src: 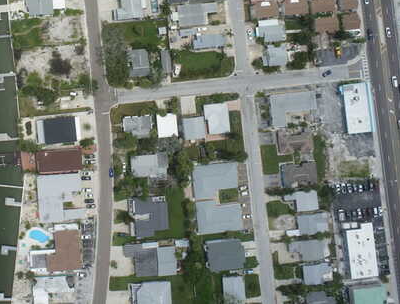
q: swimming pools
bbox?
[150,0,159,13]
[28,228,50,242]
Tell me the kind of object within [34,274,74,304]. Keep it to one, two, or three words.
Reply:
house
